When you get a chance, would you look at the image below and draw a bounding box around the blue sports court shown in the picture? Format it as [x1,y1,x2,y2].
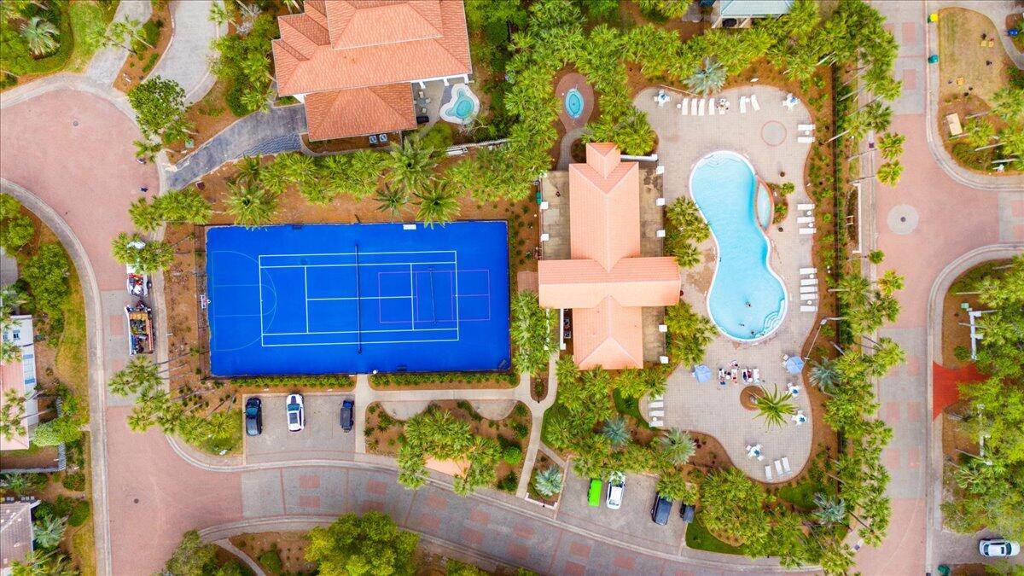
[205,220,512,379]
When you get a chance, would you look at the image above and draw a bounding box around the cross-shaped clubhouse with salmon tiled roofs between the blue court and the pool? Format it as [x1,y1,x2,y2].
[538,142,680,371]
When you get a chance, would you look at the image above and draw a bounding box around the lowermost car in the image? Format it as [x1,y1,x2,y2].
[980,539,1020,560]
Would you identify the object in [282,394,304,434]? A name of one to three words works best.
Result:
car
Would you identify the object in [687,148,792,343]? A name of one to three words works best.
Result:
swimming pool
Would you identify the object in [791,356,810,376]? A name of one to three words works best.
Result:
umbrella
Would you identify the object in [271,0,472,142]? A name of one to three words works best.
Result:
house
